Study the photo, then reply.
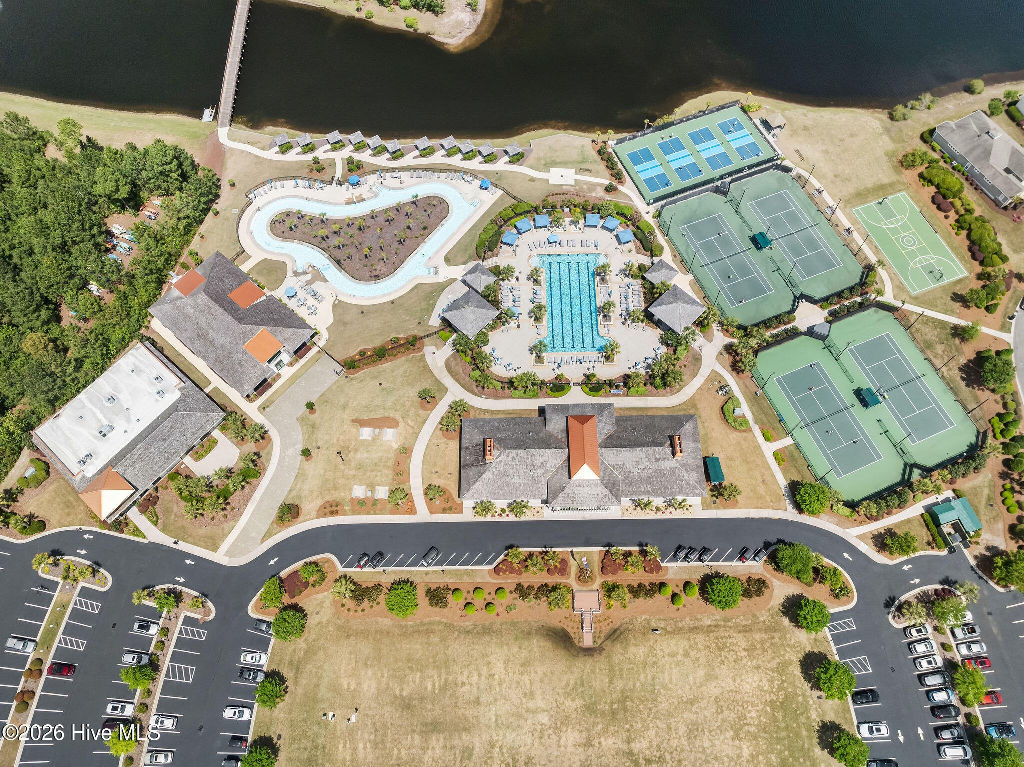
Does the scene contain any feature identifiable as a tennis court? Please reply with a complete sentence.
Yes, there is a tennis court in the image.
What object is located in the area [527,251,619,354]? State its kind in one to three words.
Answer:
swimming pool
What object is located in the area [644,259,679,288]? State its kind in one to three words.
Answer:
building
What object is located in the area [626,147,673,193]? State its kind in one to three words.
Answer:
sports court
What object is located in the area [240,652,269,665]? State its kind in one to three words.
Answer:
vehicle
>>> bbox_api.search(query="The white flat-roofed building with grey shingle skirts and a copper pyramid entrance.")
[30,340,226,523]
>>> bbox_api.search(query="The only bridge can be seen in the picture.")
[216,0,253,130]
